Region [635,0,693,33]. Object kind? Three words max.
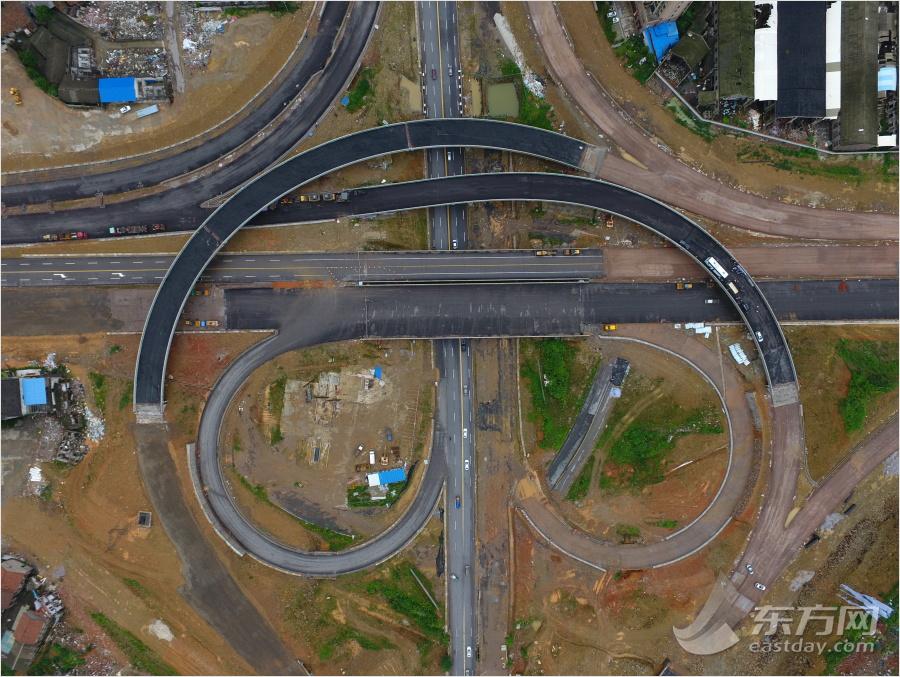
house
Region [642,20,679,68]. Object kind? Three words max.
house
